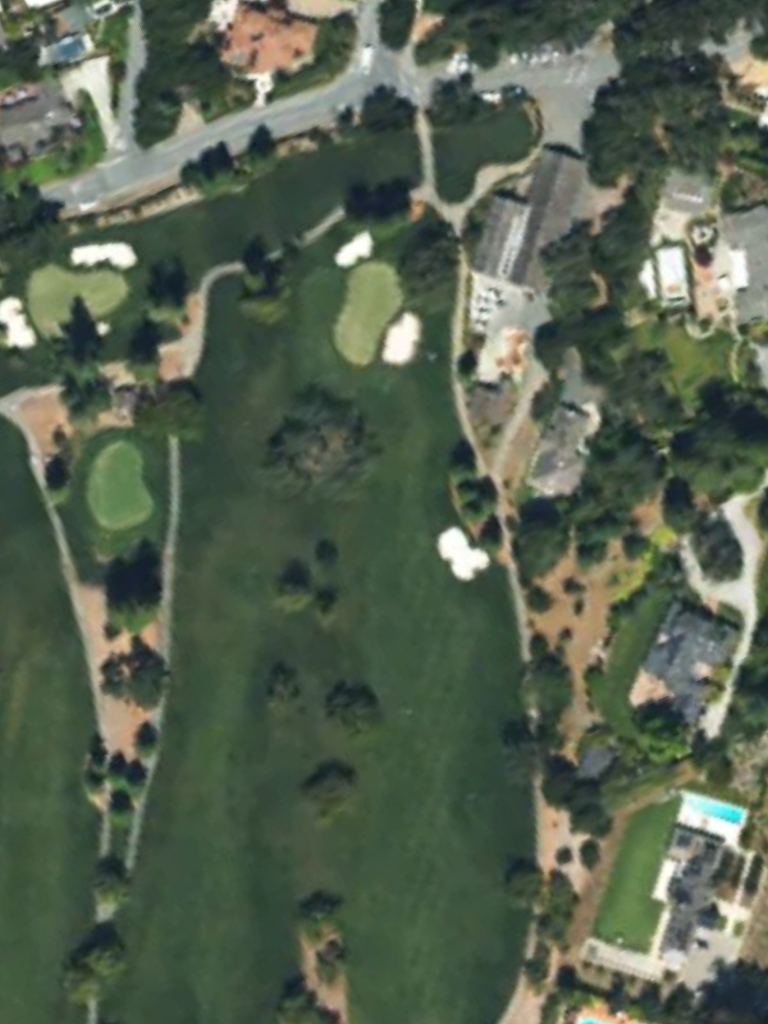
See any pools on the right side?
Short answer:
Yes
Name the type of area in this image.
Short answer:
golf course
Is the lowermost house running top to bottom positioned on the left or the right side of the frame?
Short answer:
right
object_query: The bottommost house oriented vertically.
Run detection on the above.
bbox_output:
[660,819,729,964]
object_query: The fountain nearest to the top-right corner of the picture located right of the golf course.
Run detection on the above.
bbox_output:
[693,223,712,242]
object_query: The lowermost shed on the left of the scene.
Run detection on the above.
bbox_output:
[114,386,133,418]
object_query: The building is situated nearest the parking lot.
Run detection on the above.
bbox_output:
[511,147,584,291]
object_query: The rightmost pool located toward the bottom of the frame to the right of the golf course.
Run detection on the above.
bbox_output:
[676,791,747,846]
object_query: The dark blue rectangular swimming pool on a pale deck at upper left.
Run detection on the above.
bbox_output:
[43,34,93,65]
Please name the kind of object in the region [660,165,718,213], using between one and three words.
building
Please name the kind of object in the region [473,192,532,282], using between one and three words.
barn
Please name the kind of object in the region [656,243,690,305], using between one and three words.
building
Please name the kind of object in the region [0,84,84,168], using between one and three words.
house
